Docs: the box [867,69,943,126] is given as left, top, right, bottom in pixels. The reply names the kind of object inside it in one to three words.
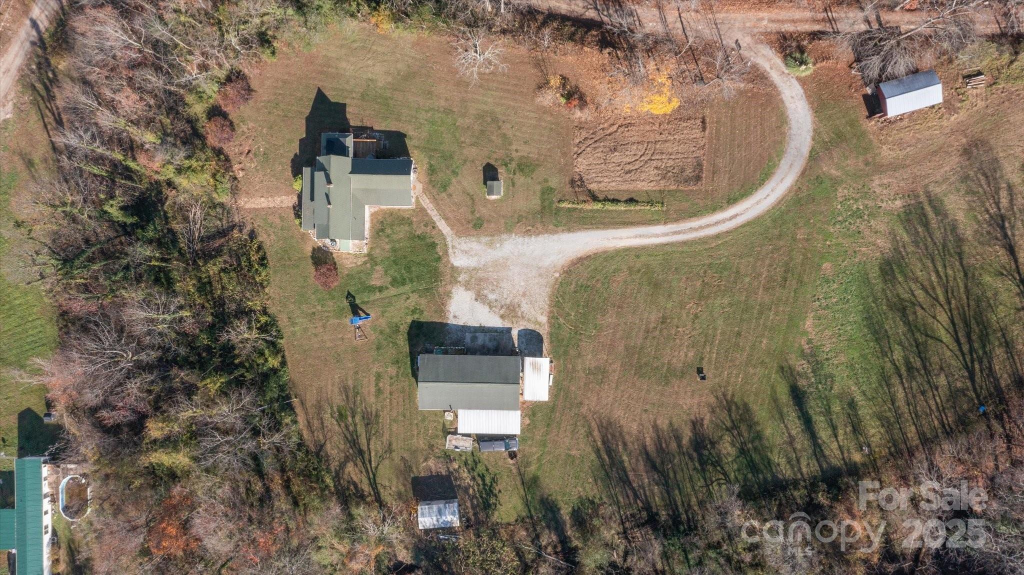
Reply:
barn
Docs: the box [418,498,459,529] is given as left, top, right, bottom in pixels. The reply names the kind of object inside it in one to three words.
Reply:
shed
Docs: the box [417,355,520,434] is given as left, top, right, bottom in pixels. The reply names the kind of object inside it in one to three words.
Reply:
building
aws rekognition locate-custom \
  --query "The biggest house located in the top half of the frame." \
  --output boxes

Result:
[301,132,416,241]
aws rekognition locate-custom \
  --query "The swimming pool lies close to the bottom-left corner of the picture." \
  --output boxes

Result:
[54,475,90,524]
